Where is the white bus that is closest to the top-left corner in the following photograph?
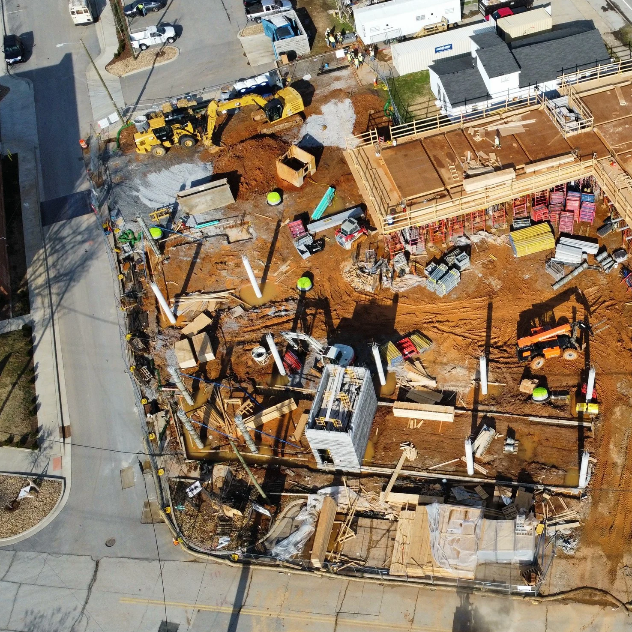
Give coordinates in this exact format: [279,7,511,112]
[65,0,94,27]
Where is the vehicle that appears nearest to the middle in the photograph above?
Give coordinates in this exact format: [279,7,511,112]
[278,331,363,369]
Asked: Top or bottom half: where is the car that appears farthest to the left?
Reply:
top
